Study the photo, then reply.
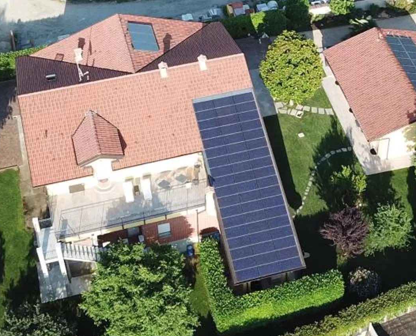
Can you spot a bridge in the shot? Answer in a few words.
No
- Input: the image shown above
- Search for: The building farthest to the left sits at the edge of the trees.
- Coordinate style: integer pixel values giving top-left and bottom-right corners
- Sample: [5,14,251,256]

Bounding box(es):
[16,12,316,300]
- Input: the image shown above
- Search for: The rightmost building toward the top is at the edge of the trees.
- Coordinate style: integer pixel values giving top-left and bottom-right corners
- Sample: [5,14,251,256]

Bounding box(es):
[320,25,416,160]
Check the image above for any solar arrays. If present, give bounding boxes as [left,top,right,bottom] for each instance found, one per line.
[190,88,312,285]
[387,31,416,89]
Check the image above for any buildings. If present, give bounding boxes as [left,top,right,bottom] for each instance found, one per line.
[16,12,316,300]
[378,312,416,336]
[320,25,416,160]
